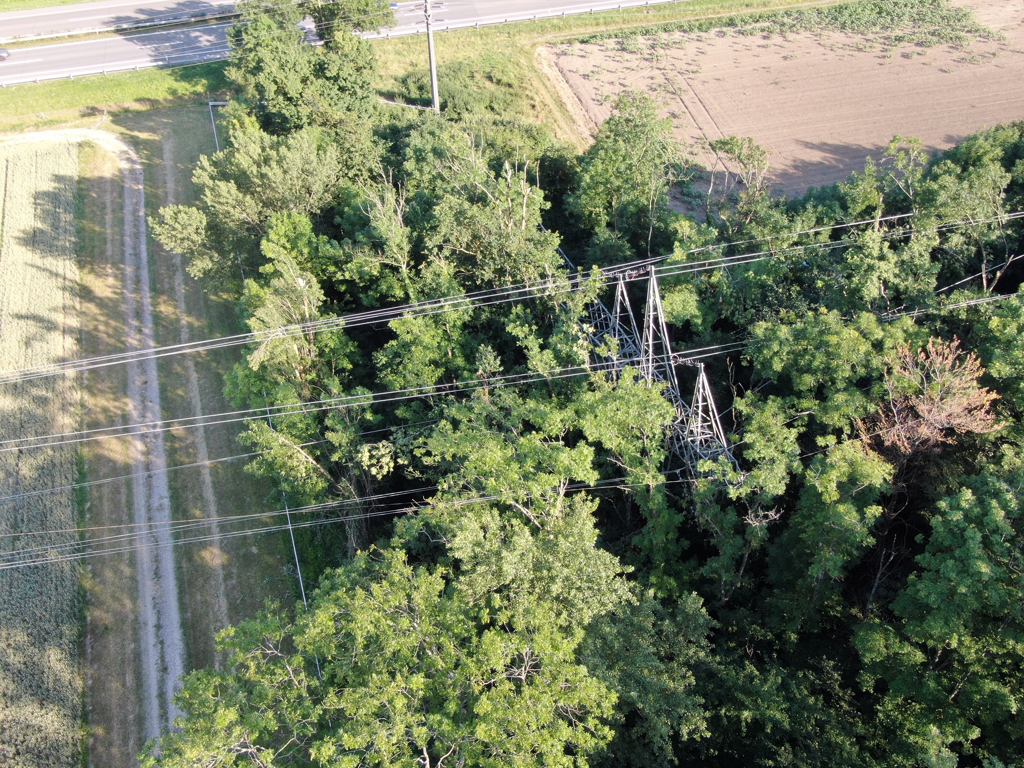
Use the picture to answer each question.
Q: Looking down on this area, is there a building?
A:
No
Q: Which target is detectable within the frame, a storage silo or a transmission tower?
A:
transmission tower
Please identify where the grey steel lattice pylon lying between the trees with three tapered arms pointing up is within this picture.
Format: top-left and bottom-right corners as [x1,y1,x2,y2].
[528,229,754,510]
